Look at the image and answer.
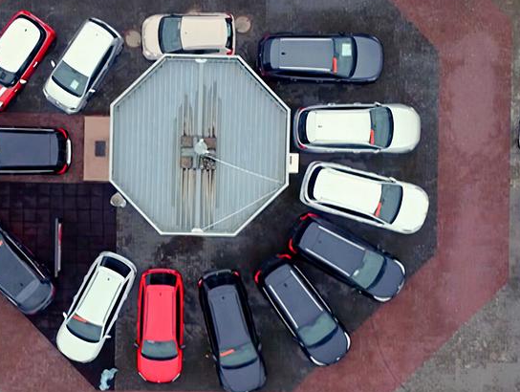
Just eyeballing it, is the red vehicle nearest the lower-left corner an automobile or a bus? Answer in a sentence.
In the photo, the red vehicle nearest the lower-left corner shows up as an automobile.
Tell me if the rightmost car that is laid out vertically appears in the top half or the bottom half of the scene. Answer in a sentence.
The bottom half of the photo is where the rightmost car that is laid out vertically is.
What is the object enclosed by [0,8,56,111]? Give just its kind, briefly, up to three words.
car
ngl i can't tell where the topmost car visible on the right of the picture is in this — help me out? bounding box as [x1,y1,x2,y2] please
[258,26,383,86]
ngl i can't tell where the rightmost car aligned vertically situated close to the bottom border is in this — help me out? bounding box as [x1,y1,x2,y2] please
[197,269,265,392]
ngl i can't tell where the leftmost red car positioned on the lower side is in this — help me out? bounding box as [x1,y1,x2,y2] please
[130,269,188,381]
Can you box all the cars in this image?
[258,26,383,86]
[0,123,71,176]
[130,269,188,381]
[0,8,56,111]
[197,269,265,392]
[142,7,235,61]
[289,209,406,300]
[60,249,139,366]
[301,160,428,232]
[43,17,123,114]
[256,255,349,366]
[0,221,55,319]
[294,98,420,157]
